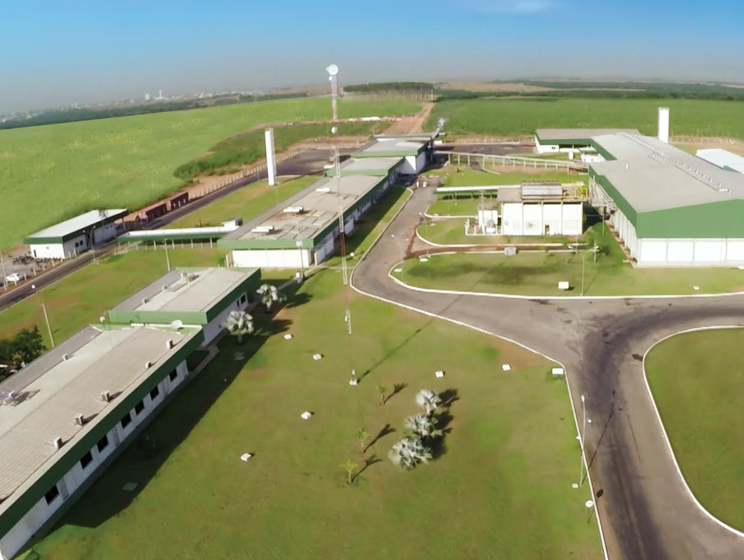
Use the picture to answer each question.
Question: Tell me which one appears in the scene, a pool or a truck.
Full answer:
I can see a truck in this picture.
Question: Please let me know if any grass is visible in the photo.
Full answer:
Yes, grass can be seen from above here.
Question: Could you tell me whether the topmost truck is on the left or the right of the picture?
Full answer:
You can find the topmost truck on the left side of the picture.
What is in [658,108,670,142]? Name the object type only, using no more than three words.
water tower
